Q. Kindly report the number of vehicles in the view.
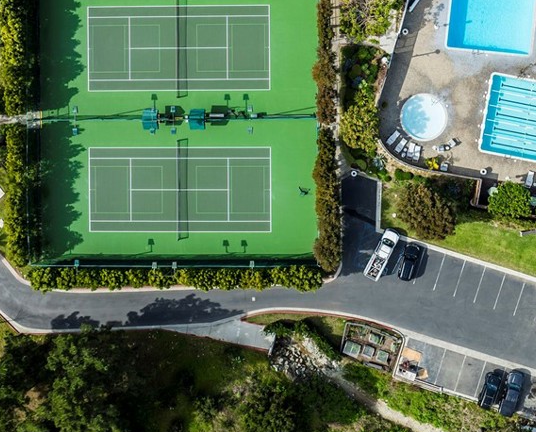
4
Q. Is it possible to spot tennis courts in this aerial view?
Yes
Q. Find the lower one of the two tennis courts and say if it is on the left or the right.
left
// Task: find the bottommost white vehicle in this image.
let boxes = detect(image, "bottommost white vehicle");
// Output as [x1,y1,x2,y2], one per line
[366,232,397,279]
